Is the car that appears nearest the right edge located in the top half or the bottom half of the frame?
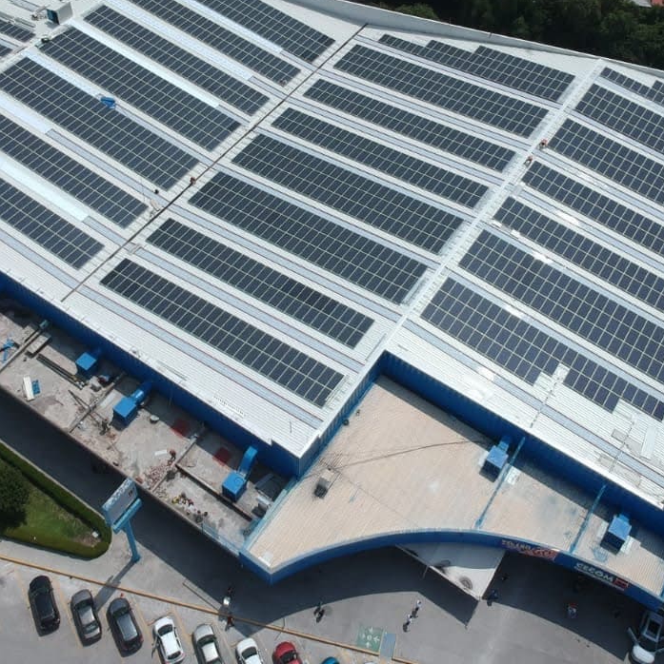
bottom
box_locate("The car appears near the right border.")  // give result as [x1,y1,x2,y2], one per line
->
[626,607,664,664]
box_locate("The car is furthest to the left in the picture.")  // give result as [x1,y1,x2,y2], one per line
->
[25,576,63,637]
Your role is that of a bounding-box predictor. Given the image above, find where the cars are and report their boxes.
[150,616,188,664]
[268,639,300,664]
[68,589,107,647]
[626,607,664,664]
[187,620,230,664]
[106,599,148,659]
[25,576,63,637]
[230,633,265,664]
